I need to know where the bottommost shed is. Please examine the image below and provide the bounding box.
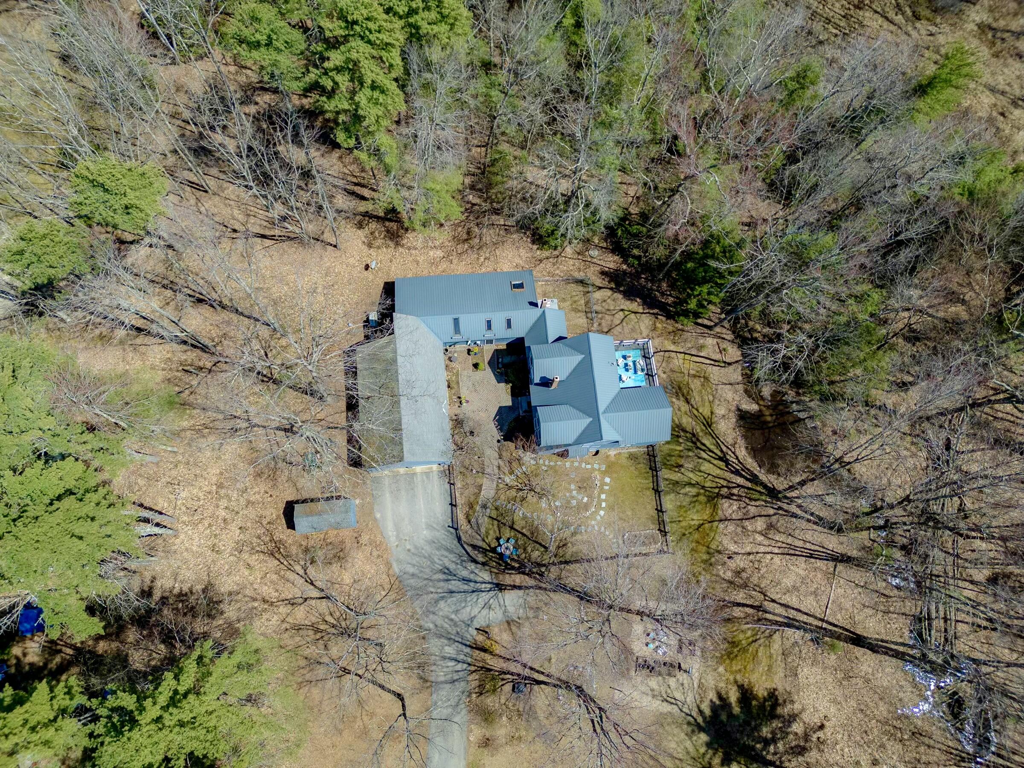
[293,498,359,534]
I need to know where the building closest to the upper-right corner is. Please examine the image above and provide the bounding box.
[357,270,672,471]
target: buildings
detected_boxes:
[293,498,359,534]
[357,270,672,471]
